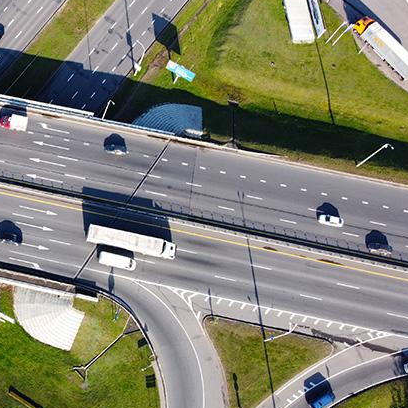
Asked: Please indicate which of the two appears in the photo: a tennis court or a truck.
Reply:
truck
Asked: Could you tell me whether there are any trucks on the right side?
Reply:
Yes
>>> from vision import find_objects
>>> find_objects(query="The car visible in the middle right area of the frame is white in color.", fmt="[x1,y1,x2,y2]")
[317,214,343,227]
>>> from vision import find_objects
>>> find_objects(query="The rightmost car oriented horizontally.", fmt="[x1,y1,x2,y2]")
[367,238,392,252]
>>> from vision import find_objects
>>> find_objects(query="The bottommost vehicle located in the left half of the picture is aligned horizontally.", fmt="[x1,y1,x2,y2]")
[98,251,135,270]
